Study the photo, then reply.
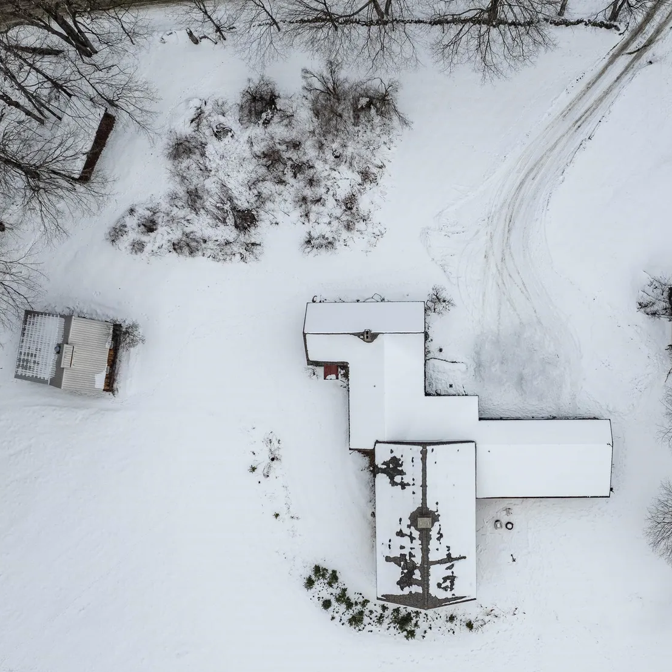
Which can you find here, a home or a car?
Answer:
home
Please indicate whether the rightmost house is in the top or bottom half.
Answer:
bottom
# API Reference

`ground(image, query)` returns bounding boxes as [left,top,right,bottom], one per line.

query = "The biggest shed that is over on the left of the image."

[15,309,122,392]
